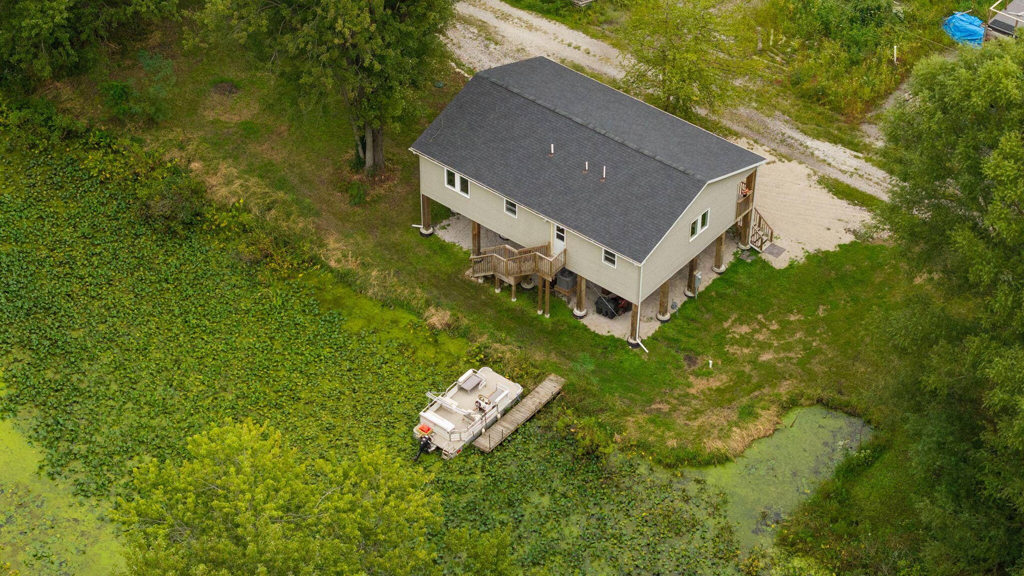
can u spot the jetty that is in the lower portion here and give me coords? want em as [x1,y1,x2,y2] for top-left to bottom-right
[476,374,572,461]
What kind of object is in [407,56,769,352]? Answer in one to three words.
house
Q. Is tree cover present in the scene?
Yes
